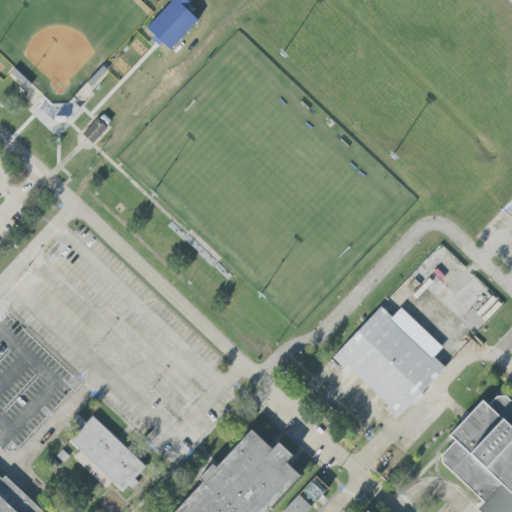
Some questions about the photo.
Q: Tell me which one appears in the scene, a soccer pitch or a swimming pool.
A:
soccer pitch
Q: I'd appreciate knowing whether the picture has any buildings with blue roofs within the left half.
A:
Yes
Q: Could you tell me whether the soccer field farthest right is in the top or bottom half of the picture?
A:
top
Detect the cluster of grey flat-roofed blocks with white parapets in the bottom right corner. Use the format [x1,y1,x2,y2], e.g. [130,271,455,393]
[443,396,512,512]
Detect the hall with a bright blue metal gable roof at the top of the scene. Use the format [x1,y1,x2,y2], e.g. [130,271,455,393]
[148,0,198,48]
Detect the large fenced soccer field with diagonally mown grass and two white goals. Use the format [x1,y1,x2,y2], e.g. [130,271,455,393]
[118,30,416,327]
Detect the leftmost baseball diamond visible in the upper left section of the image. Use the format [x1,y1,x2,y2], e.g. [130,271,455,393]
[0,0,153,103]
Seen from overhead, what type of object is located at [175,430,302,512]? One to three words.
building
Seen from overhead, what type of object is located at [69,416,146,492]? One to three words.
building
